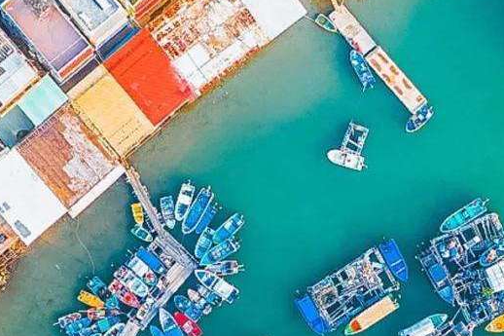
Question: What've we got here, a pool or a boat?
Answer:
boat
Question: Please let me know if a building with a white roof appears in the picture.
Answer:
Yes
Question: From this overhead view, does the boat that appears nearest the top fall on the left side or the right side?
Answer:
right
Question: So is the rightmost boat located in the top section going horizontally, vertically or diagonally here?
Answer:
diagonally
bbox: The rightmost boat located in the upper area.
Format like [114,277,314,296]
[404,104,437,130]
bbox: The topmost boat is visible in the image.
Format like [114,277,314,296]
[313,14,343,35]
